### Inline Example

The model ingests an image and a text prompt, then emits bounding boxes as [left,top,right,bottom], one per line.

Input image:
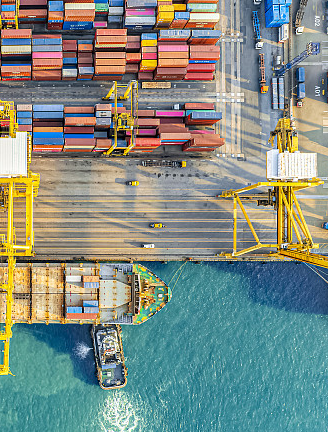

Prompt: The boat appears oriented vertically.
[93,325,127,391]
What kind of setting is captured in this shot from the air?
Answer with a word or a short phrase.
port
